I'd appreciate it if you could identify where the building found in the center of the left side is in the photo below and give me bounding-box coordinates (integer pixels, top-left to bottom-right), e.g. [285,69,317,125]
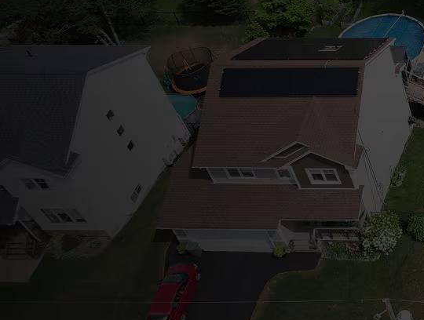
[0,43,189,272]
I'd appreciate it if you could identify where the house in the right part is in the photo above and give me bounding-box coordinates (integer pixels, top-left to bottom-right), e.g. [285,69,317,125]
[159,37,412,259]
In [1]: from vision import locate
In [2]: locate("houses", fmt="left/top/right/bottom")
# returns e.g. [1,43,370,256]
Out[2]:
[159,37,412,259]
[0,43,189,272]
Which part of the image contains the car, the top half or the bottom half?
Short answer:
bottom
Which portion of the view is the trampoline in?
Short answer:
top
